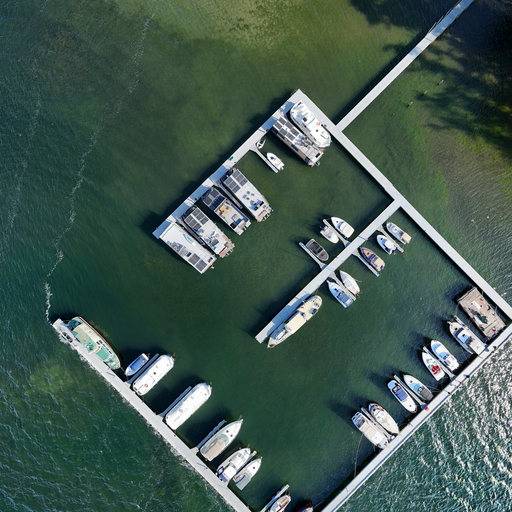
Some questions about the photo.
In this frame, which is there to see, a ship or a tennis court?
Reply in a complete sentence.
Looking from above, you can make out a ship.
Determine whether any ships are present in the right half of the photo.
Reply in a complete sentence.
Yes, a ship is visible in the right half of the photo.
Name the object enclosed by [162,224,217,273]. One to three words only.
boat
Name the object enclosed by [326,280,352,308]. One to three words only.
boat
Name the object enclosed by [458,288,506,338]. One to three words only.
ship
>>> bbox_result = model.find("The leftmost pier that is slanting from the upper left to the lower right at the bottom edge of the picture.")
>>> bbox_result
[52,318,252,512]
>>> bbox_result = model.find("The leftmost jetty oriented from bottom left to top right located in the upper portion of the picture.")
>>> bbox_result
[152,88,305,240]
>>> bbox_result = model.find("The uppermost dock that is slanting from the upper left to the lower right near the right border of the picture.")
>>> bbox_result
[386,187,512,320]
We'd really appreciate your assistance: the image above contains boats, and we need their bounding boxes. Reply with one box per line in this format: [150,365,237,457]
[386,380,417,412]
[234,458,262,492]
[292,102,331,148]
[125,352,149,375]
[320,226,338,243]
[166,382,212,430]
[162,224,217,273]
[387,223,412,244]
[350,408,390,447]
[266,494,291,512]
[222,168,273,222]
[202,188,250,234]
[268,296,322,348]
[306,238,328,260]
[326,280,352,308]
[300,504,312,512]
[182,206,234,257]
[340,271,364,296]
[422,352,444,380]
[200,419,244,460]
[330,216,354,239]
[133,354,176,396]
[432,340,459,371]
[447,322,482,356]
[218,448,249,482]
[377,236,395,256]
[271,117,323,167]
[403,374,434,402]
[268,153,284,170]
[367,402,400,435]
